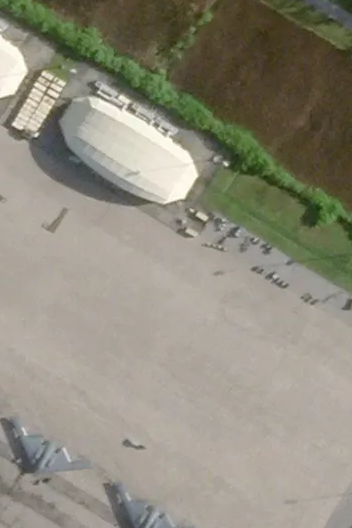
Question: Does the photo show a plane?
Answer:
Yes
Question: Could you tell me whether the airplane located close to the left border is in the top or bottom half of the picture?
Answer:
bottom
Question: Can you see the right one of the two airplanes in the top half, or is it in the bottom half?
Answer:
bottom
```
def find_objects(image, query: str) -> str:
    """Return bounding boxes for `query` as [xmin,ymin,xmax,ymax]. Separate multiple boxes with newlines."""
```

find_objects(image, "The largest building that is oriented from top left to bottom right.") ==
[58,97,197,205]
